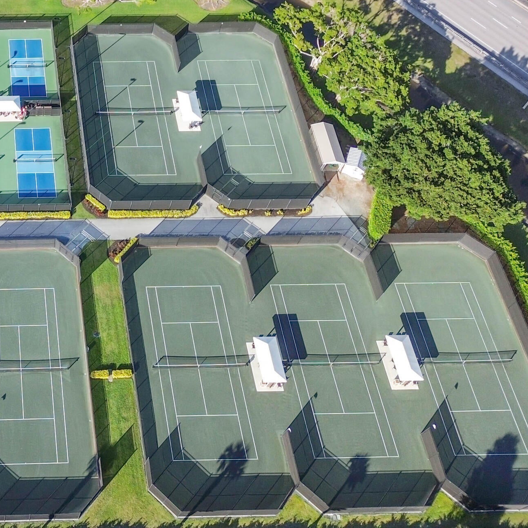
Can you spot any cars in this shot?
No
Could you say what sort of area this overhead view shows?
sports ground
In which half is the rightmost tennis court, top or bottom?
bottom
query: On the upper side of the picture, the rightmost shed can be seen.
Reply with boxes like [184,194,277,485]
[343,148,364,177]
